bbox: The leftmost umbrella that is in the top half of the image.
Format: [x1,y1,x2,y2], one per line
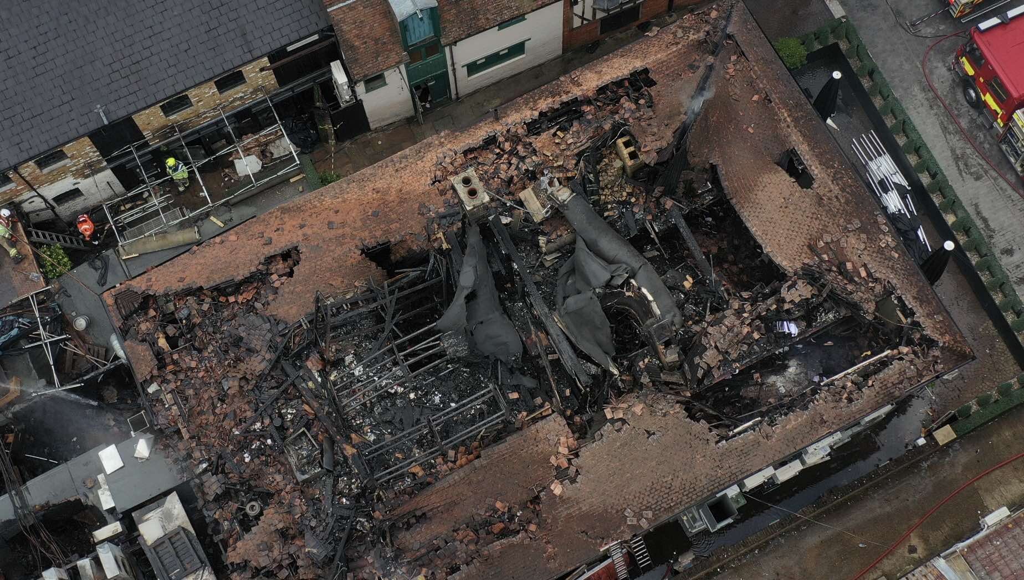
[811,70,841,123]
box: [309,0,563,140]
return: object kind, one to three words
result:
building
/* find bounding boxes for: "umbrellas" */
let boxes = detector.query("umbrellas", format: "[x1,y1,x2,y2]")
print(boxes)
[925,241,953,285]
[811,70,841,123]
